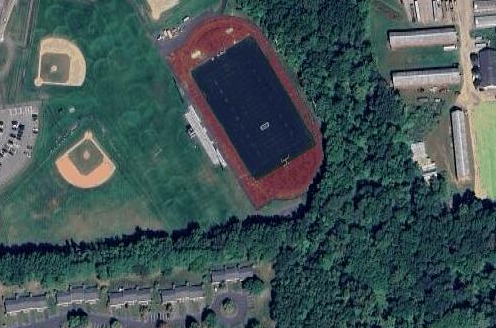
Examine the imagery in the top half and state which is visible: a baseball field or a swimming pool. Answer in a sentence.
It is a baseball field that can be seen in the top half.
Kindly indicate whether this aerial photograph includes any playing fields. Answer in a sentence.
Yes, there's a playing field here.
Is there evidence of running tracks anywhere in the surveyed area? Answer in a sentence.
Yes, I can see a running track in this picture.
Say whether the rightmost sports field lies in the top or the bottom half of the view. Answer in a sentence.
You can find the rightmost sports field in the top half.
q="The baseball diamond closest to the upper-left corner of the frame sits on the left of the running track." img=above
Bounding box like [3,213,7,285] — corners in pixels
[34,37,86,87]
